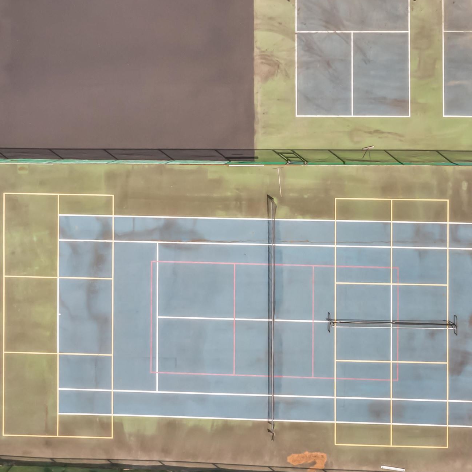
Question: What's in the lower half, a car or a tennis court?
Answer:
tennis court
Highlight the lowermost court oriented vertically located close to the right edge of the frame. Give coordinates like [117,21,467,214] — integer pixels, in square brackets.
[334,198,449,448]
